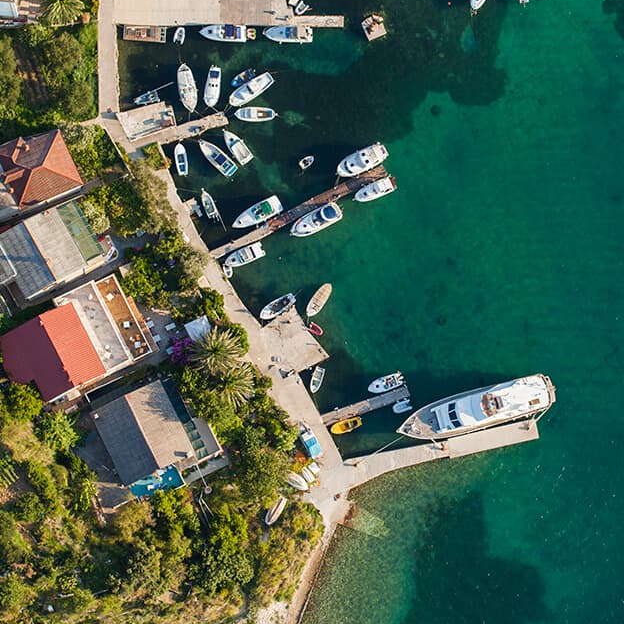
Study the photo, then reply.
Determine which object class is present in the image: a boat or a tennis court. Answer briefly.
boat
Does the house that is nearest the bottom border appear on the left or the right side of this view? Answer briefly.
left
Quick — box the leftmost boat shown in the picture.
[134,91,171,105]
